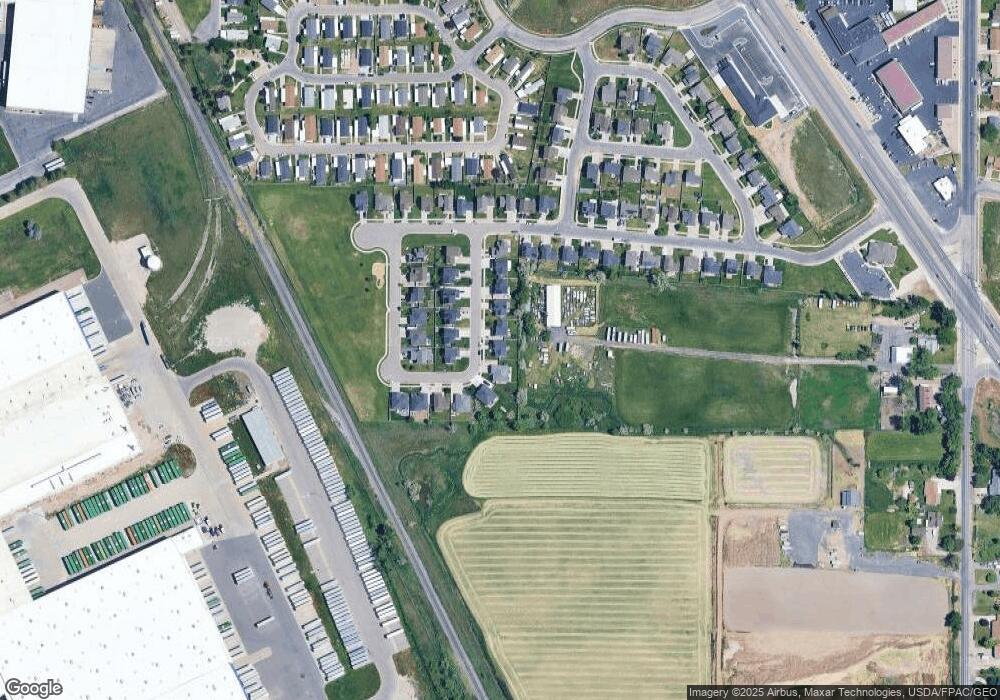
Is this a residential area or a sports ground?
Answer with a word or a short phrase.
residential area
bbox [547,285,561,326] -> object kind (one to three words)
shed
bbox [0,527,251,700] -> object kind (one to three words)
warehouse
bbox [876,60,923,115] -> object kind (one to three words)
building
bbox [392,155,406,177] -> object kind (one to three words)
house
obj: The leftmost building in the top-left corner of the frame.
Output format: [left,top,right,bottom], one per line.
[3,0,94,112]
